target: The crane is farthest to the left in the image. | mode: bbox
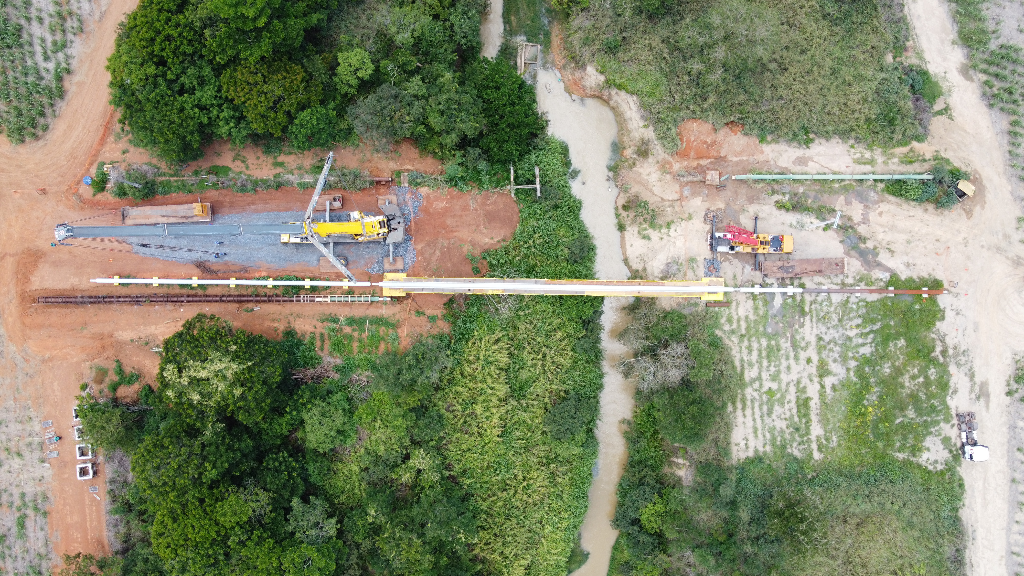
[46,149,406,286]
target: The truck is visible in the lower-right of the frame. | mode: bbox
[953,411,989,462]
